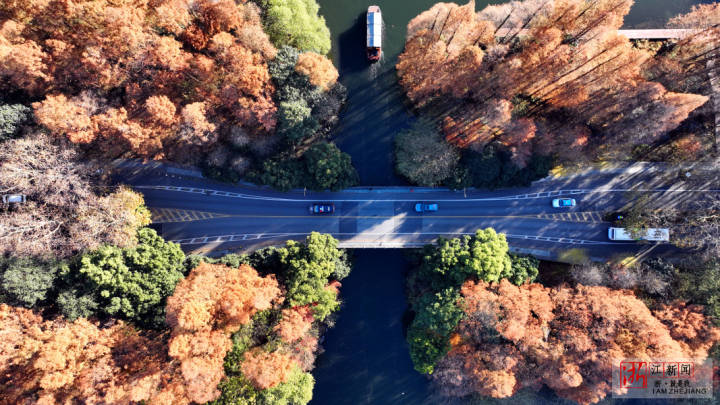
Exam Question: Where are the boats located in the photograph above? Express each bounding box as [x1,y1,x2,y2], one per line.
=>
[367,6,384,68]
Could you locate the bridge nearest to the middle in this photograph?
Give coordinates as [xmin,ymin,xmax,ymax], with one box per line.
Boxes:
[329,186,434,248]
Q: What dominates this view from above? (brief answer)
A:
trees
